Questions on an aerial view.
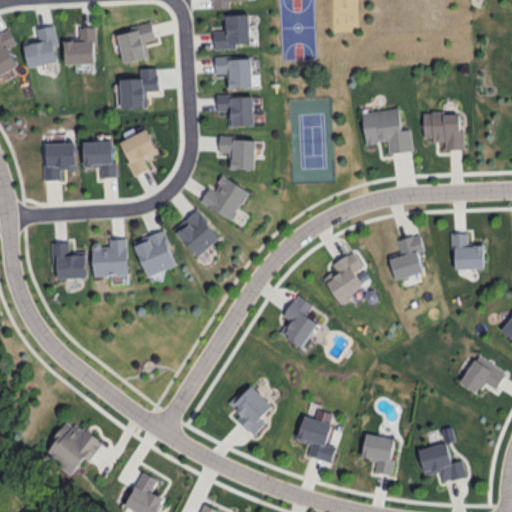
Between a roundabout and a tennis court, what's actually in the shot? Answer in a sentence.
Looking from above, you can make out a tennis court.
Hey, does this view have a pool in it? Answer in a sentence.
Yes, there is a pool in the image.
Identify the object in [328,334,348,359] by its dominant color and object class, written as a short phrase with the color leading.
blue swimming pool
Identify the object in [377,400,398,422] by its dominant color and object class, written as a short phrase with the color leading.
blue swimming pool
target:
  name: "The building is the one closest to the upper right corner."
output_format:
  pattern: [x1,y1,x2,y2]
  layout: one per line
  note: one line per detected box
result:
[422,110,464,152]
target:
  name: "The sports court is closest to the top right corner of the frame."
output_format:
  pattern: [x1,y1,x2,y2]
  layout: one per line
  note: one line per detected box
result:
[332,0,360,33]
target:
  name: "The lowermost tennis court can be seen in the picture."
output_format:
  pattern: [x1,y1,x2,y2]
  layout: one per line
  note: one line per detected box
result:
[290,98,334,184]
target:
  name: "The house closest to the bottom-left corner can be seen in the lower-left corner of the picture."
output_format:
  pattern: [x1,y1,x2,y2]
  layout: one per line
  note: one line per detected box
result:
[50,424,104,472]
